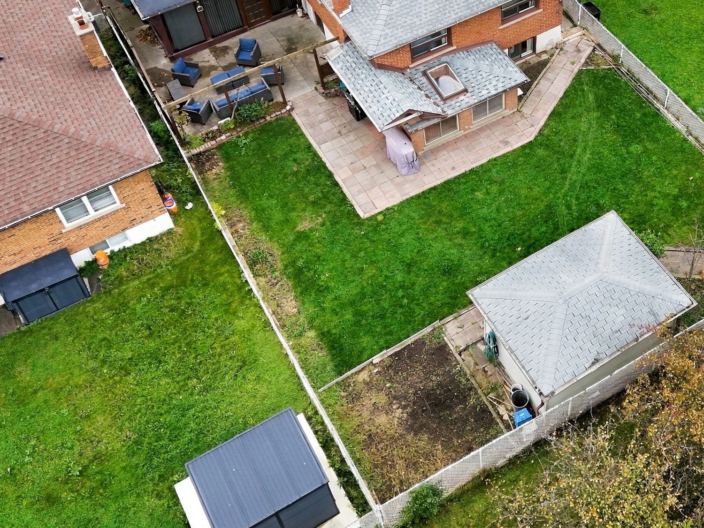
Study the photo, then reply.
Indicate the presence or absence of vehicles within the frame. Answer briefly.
No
